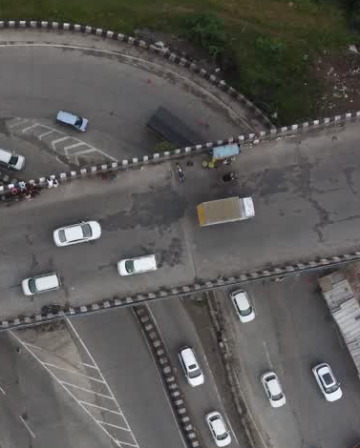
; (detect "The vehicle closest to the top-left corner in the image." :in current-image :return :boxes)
[54,110,88,133]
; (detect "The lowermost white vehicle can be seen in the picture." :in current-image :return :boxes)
[204,409,230,447]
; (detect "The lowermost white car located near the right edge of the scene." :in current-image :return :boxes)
[309,360,342,402]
